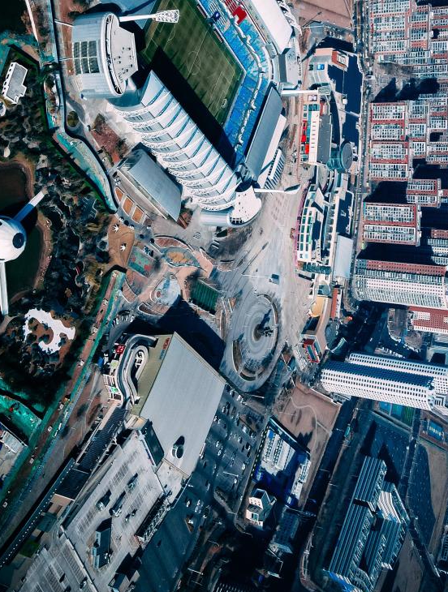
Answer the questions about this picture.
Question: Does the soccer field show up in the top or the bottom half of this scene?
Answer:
top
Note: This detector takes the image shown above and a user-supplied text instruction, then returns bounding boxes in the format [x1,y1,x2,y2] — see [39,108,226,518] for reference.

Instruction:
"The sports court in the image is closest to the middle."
[191,280,223,315]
